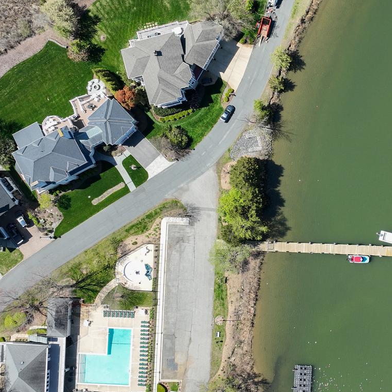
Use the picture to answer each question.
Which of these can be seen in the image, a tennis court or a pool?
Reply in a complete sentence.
The image shows a pool.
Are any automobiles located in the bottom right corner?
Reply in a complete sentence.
No, there is no automobile in the bottom right corner.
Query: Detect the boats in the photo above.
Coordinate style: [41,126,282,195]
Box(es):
[373,231,392,244]
[342,255,369,264]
